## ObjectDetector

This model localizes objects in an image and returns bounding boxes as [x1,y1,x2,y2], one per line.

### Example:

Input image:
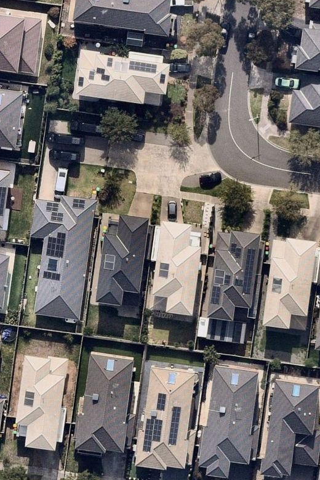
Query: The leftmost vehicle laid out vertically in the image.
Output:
[54,167,68,195]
